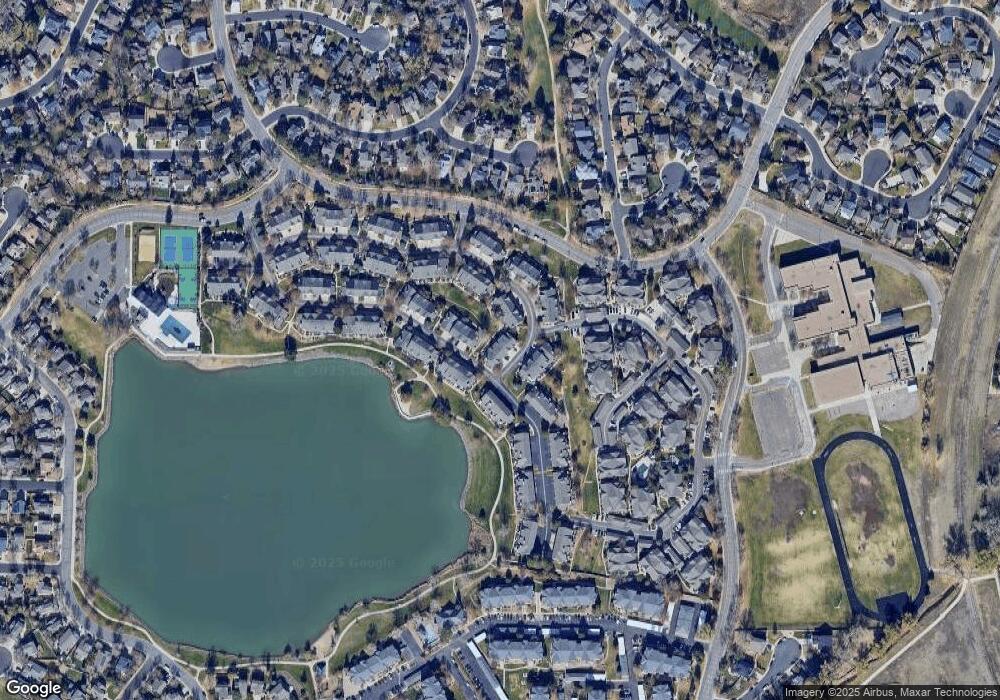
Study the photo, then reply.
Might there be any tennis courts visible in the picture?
Yes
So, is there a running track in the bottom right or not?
Yes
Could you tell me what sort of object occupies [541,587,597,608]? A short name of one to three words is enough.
building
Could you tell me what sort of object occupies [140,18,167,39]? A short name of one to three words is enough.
house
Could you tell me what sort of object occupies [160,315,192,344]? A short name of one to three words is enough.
swimming pool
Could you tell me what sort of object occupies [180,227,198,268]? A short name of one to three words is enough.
tennis court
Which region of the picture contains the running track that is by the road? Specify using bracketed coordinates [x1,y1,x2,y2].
[813,432,930,627]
